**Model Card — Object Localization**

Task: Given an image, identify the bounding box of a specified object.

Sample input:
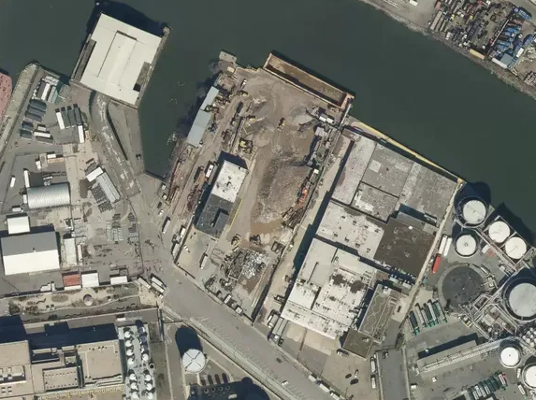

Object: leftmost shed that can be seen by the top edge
[80,13,161,105]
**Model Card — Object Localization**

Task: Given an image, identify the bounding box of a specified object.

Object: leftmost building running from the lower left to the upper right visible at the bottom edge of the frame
[32,350,76,393]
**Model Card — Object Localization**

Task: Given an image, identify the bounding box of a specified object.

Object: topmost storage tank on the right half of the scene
[456,194,491,228]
